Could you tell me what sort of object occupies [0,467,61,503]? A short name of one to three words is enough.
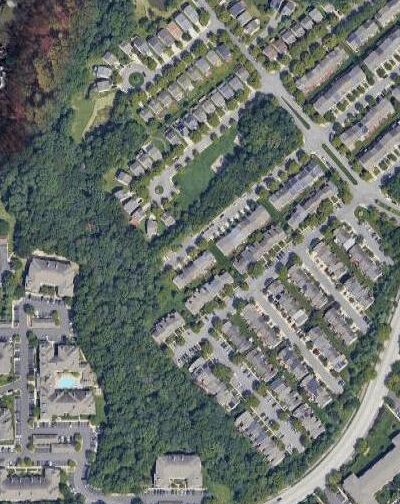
building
